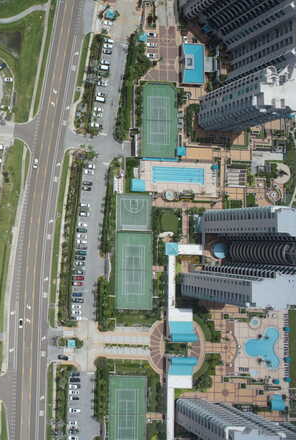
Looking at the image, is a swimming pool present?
Yes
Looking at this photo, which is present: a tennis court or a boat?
tennis court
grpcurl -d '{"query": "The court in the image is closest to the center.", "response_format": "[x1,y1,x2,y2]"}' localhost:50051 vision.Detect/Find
[115,194,152,231]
